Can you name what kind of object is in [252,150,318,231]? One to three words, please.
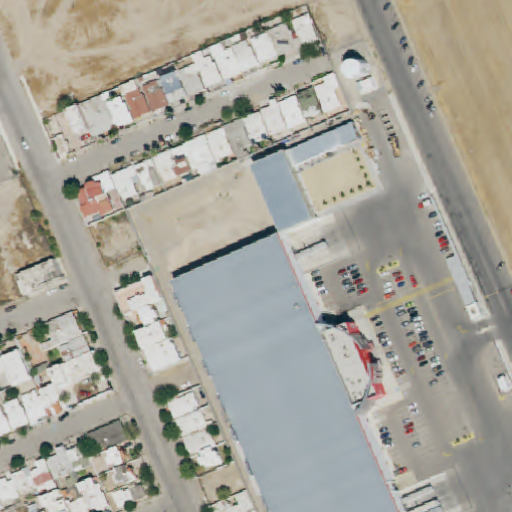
building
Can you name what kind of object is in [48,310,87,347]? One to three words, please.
house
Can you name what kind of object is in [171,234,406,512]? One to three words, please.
building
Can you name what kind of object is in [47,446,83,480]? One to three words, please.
house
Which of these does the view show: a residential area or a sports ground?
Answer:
residential area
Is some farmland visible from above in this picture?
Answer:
No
